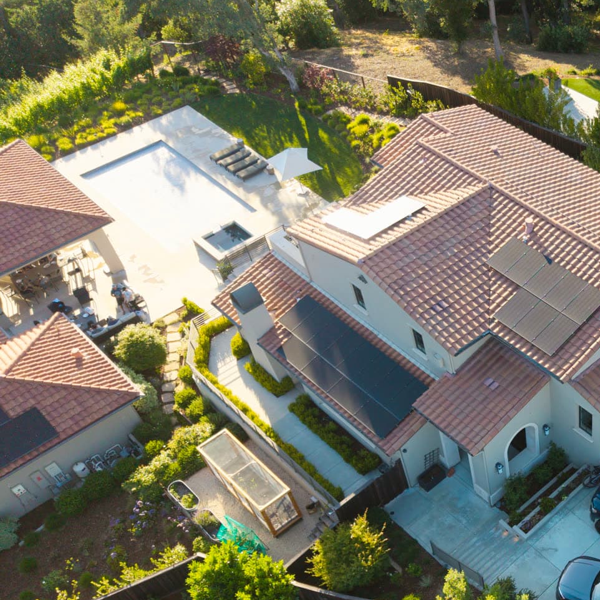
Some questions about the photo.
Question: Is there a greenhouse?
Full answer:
Yes, a greenhouse appears in the view.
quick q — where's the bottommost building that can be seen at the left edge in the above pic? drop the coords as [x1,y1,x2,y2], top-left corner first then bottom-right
[0,311,145,515]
